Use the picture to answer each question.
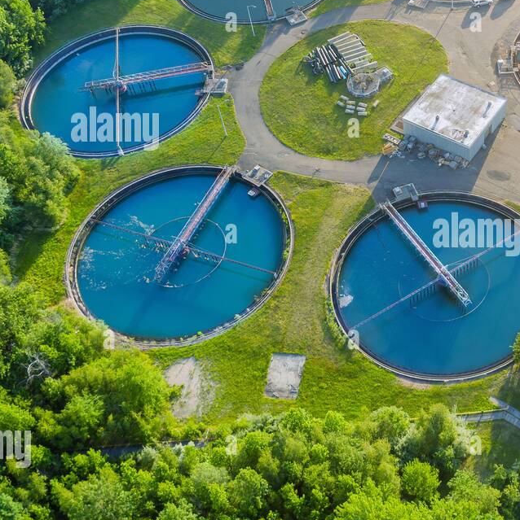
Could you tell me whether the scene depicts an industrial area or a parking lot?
industrial area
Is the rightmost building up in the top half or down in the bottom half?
top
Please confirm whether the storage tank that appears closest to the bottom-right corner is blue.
Yes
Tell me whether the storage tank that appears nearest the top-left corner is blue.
Yes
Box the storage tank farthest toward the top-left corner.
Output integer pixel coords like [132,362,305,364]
[19,25,217,161]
